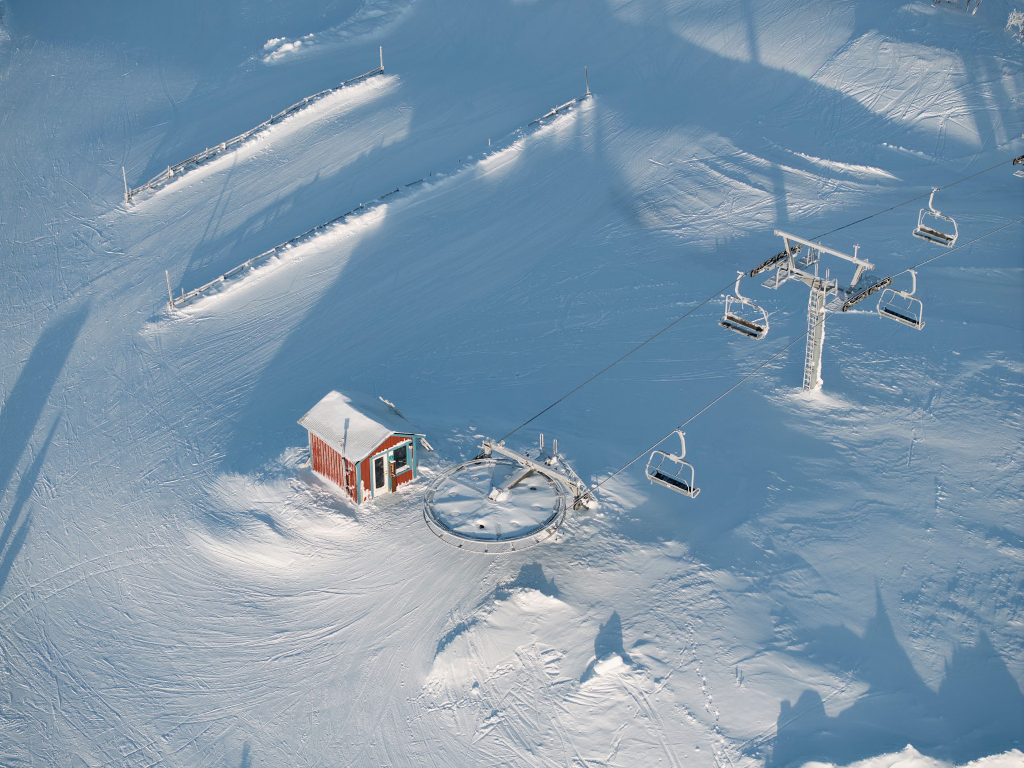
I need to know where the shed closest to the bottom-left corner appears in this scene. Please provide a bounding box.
[300,388,426,504]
